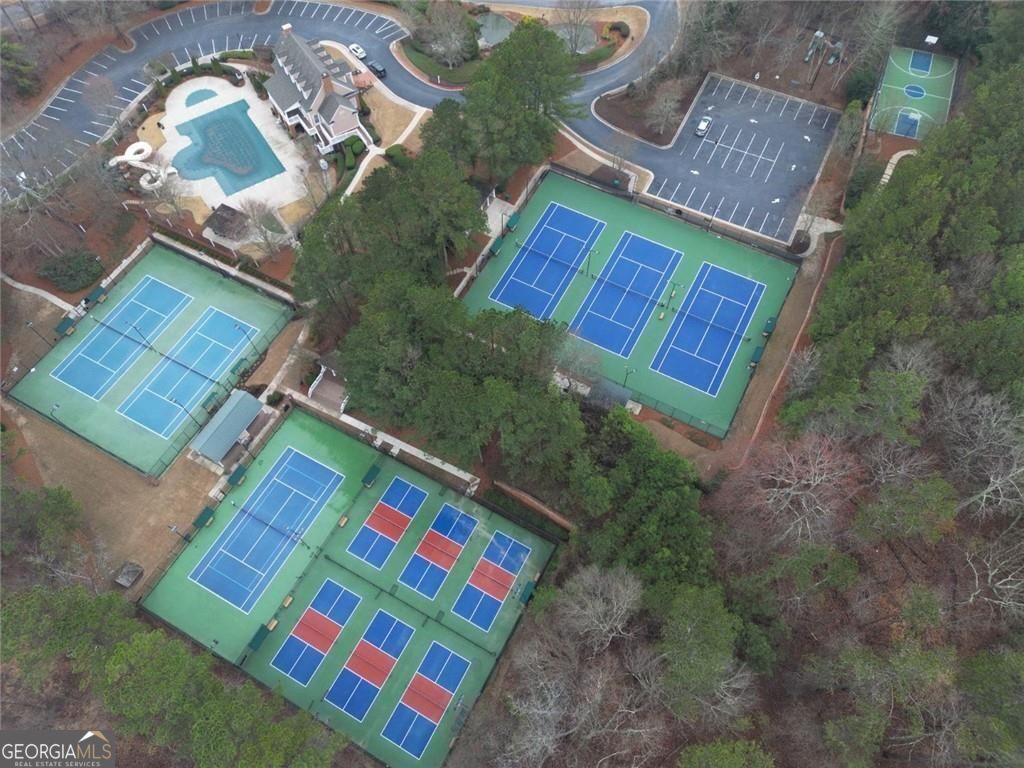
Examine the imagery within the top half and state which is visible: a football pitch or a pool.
pool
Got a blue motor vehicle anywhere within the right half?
No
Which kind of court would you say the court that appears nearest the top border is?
basketball court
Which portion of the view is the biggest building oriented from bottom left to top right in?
left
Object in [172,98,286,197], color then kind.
blue swimming pool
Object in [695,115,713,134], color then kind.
white car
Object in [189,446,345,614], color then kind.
blue tennis court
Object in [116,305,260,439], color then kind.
blue tennis court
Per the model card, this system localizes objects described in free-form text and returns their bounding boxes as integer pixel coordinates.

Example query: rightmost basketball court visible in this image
[870,47,957,142]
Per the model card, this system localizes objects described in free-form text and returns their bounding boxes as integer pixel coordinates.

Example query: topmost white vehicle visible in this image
[347,42,367,57]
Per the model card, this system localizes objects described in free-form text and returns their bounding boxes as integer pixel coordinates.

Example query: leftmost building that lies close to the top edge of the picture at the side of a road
[260,24,374,160]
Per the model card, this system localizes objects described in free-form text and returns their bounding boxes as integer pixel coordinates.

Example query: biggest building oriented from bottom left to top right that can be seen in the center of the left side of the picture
[189,389,269,473]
